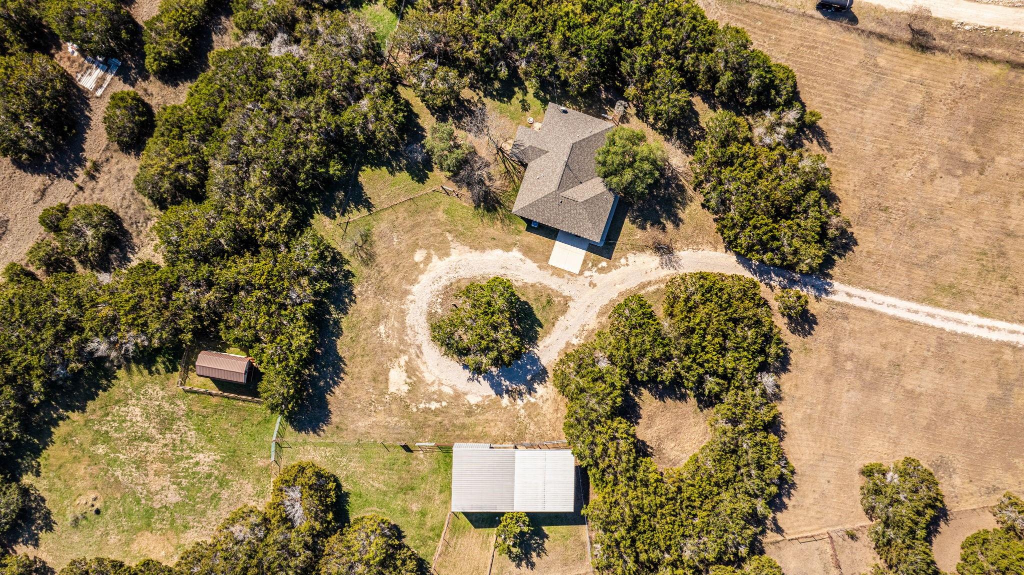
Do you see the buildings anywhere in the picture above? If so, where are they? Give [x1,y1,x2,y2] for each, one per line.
[451,440,575,512]
[196,351,253,385]
[509,102,619,243]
